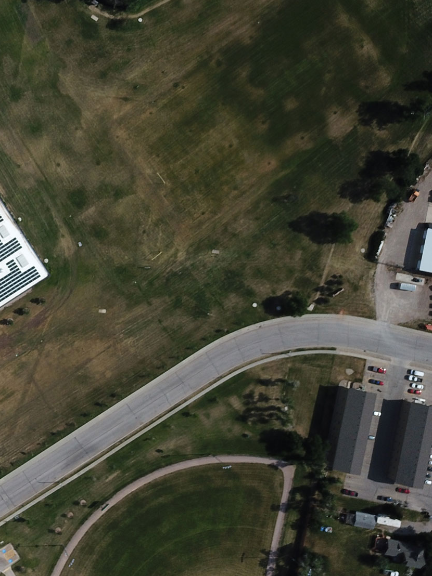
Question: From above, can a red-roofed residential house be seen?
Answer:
No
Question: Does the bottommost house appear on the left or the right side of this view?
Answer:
right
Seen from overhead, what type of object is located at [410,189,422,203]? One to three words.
vehicle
